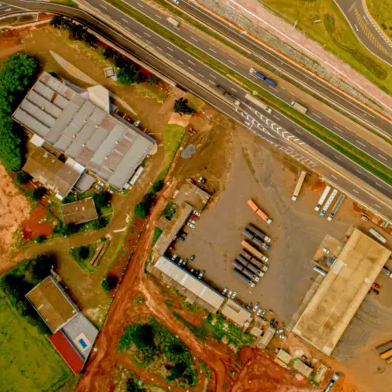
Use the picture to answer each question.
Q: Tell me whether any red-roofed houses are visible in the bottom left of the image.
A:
Yes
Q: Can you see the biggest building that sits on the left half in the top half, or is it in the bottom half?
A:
top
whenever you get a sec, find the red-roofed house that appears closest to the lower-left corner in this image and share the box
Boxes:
[50,330,86,375]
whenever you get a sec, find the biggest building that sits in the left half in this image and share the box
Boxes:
[12,71,157,192]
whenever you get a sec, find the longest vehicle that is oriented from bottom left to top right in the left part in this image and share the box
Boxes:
[126,166,148,190]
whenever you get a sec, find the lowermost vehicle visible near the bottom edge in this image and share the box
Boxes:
[323,372,339,392]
